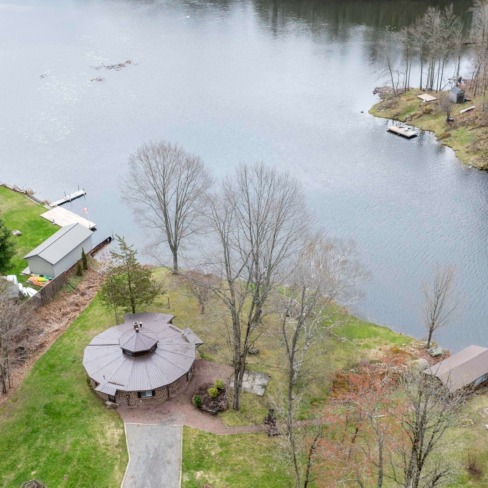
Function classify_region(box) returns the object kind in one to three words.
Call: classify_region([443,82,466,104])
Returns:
shed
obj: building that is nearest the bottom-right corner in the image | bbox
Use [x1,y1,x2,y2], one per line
[422,345,488,406]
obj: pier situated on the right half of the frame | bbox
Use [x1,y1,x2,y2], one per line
[387,122,422,140]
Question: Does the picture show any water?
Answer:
Yes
